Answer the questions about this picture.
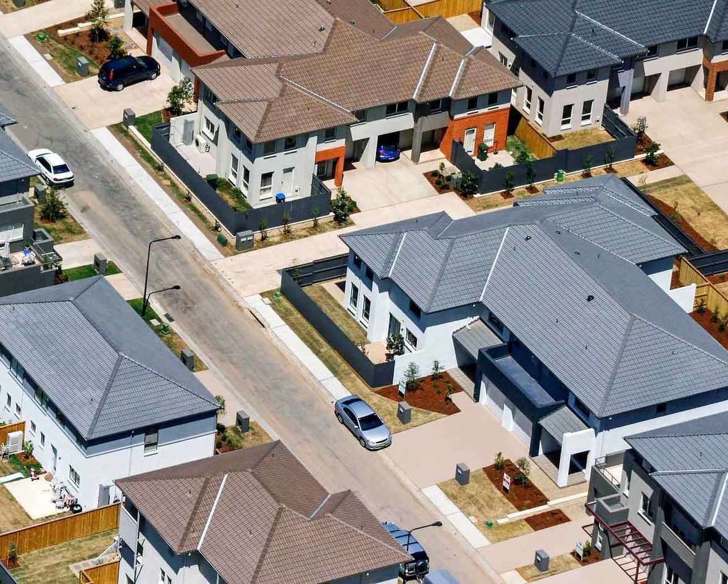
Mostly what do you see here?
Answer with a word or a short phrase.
buildings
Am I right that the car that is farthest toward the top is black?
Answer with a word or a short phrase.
Yes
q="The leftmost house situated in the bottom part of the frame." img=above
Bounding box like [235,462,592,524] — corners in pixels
[0,273,222,513]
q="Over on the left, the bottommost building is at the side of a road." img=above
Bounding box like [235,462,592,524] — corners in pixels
[81,439,416,584]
